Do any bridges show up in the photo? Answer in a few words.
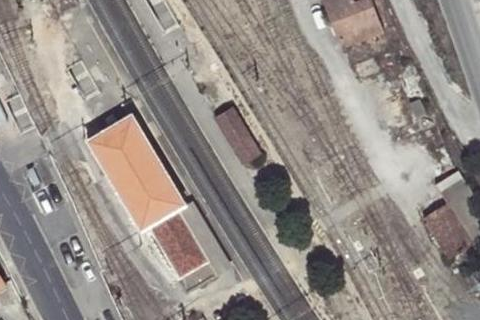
No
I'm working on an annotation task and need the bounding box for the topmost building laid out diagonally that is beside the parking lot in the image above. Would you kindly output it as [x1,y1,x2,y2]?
[87,114,187,233]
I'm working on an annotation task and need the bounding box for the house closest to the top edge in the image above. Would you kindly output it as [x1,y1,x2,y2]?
[324,0,384,48]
